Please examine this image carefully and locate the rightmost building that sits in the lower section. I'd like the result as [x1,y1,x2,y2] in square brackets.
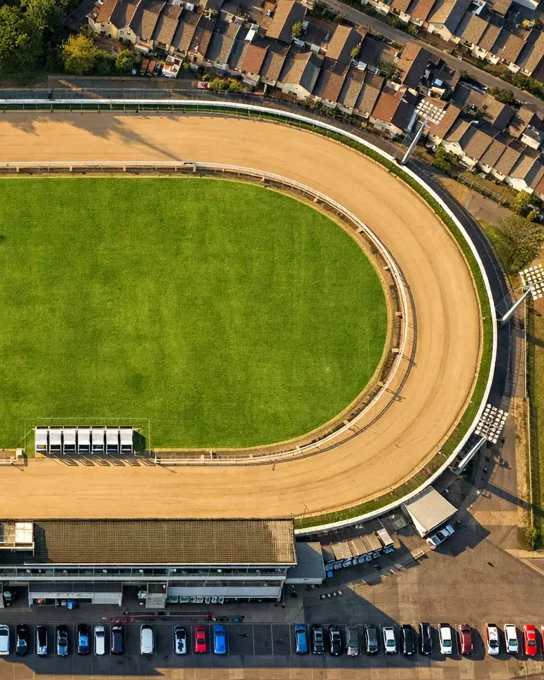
[400,486,457,535]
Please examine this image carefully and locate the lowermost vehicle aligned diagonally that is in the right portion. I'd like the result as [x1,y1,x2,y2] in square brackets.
[425,525,455,550]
